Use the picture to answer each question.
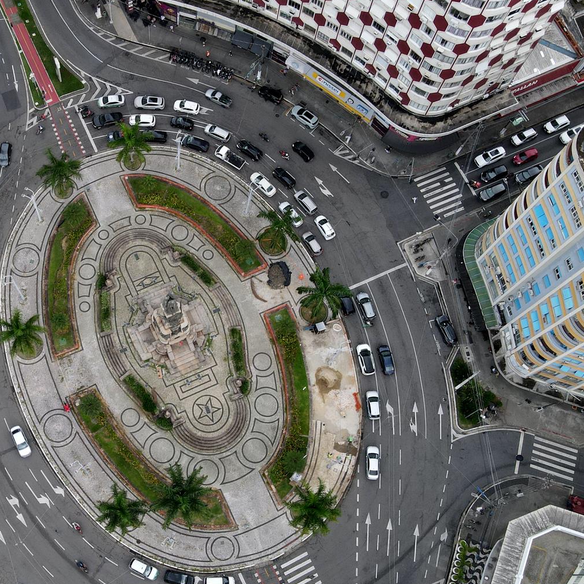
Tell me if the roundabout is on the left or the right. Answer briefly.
left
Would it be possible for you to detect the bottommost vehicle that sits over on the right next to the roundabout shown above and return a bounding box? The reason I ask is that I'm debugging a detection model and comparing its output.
[365,446,381,481]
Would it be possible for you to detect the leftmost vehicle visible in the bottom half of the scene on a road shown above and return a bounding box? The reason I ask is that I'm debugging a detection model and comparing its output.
[9,425,31,459]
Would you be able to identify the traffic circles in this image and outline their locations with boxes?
[0,146,362,572]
